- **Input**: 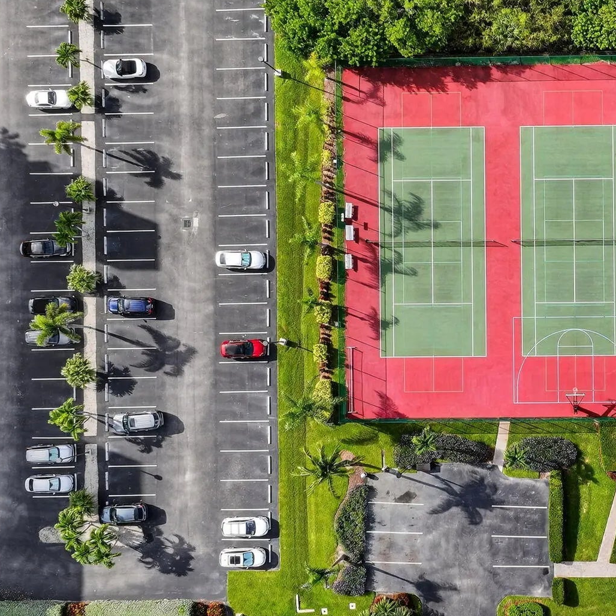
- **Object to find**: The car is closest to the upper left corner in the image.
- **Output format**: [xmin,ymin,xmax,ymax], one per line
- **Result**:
[25,89,76,110]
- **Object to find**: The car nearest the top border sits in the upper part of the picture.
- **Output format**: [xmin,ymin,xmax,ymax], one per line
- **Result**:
[103,58,147,80]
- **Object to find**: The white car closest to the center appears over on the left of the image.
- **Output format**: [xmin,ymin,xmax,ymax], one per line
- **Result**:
[217,249,267,271]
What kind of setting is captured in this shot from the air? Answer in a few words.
sports ground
